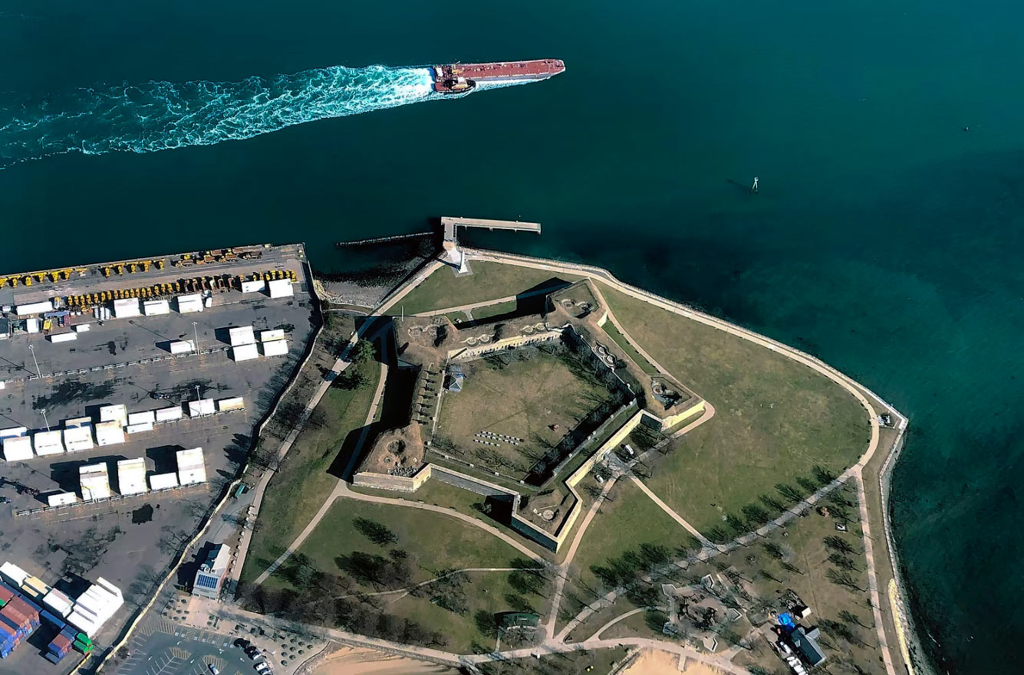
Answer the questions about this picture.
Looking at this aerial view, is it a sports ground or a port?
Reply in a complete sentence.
The area seen from above is a port.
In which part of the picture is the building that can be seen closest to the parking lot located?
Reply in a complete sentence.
The building that can be seen closest to the parking lot is located in the bottom left region of the scene.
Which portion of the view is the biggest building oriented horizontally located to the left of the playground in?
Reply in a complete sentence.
Look in the bottom portion of the view to spot the biggest building oriented horizontally located to the left of the playground.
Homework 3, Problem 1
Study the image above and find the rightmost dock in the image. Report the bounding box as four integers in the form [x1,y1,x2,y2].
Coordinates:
[441,215,541,240]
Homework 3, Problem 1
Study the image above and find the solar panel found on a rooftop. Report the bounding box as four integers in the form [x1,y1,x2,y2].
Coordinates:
[194,572,220,592]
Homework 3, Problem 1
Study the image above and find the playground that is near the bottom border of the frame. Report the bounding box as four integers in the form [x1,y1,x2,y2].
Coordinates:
[661,573,743,651]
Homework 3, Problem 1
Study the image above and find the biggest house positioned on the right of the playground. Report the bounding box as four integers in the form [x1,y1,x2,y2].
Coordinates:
[791,627,826,669]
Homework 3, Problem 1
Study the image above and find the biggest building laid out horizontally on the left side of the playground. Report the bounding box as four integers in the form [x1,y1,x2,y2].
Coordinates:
[495,612,540,632]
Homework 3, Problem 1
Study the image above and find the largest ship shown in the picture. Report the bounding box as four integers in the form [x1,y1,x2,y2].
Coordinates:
[439,55,559,81]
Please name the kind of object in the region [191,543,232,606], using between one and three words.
building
